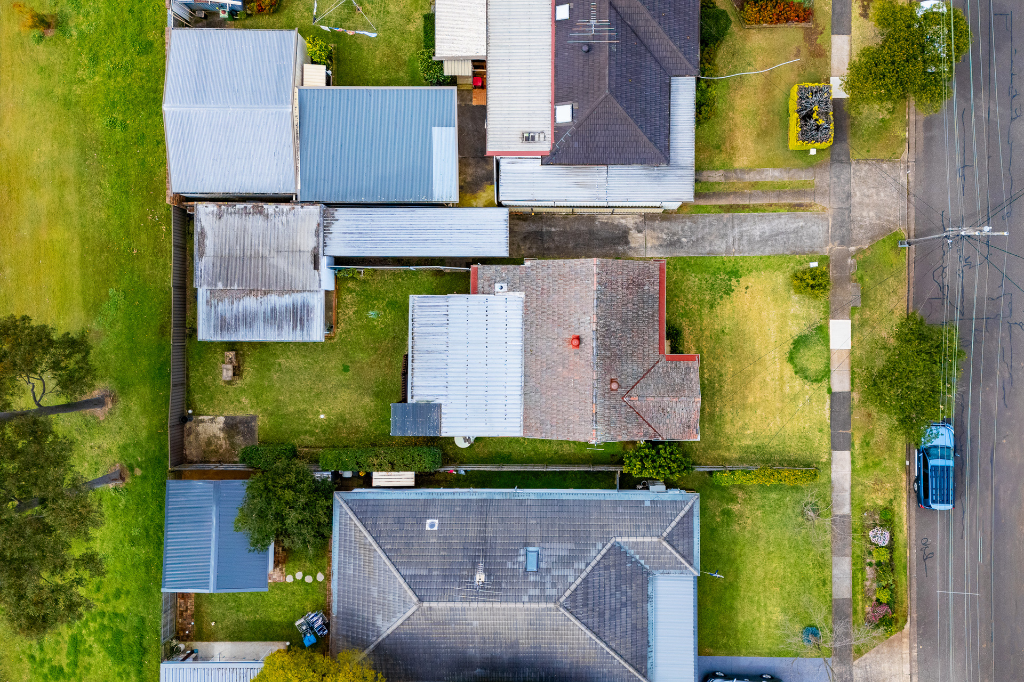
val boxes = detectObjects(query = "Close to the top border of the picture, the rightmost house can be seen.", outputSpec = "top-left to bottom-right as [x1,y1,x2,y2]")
[485,0,701,204]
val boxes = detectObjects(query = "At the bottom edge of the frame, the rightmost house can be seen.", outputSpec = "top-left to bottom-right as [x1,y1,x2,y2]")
[332,486,700,682]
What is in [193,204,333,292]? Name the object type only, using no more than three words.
building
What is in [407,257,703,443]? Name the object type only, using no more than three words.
house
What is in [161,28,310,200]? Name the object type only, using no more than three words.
shed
